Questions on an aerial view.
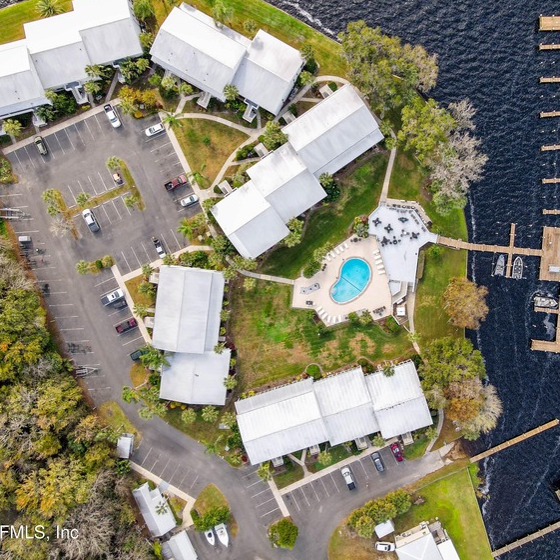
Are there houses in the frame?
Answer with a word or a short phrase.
Yes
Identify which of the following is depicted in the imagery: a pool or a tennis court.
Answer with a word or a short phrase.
pool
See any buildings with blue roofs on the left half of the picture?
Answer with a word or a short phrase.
No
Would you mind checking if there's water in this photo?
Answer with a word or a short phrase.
Yes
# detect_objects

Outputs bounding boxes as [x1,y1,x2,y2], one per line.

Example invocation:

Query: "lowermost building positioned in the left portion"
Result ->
[162,526,205,560]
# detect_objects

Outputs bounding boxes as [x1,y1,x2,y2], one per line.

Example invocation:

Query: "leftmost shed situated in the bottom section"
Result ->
[116,431,136,458]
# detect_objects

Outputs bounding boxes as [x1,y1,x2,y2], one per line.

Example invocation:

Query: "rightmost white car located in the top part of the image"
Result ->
[180,194,199,207]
